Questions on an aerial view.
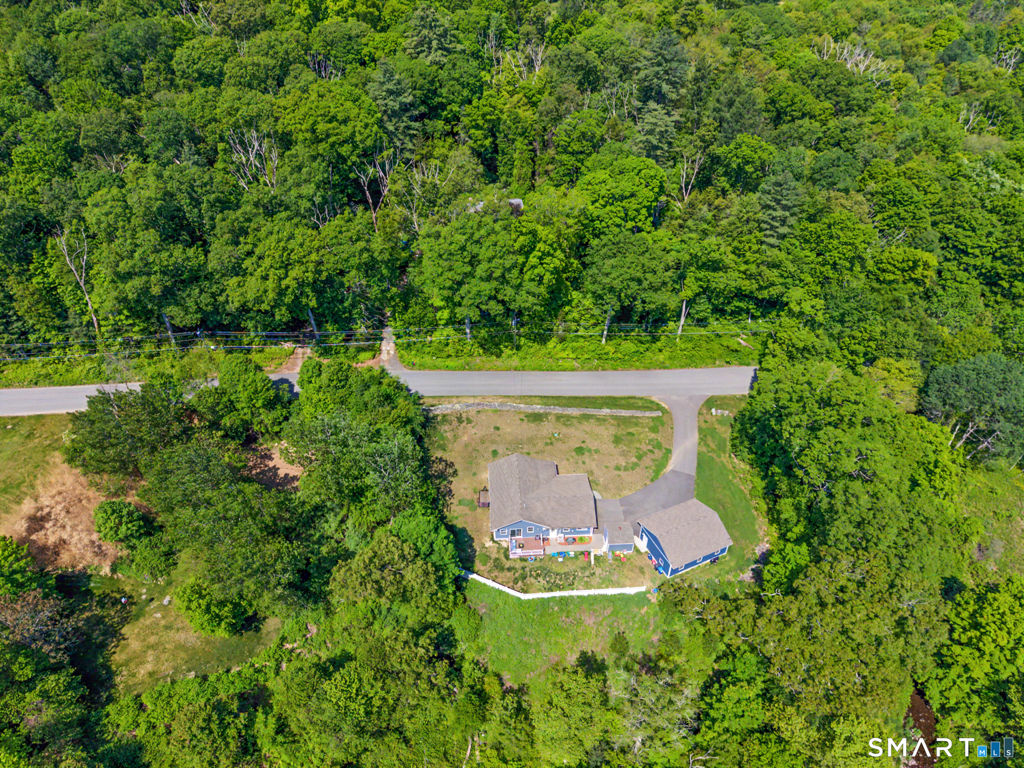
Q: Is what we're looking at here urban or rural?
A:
rural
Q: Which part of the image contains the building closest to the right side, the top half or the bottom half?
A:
bottom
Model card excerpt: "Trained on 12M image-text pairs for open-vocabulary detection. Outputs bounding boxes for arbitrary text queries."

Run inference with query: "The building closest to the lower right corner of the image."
[637,498,732,578]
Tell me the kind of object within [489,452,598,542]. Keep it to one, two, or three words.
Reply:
house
